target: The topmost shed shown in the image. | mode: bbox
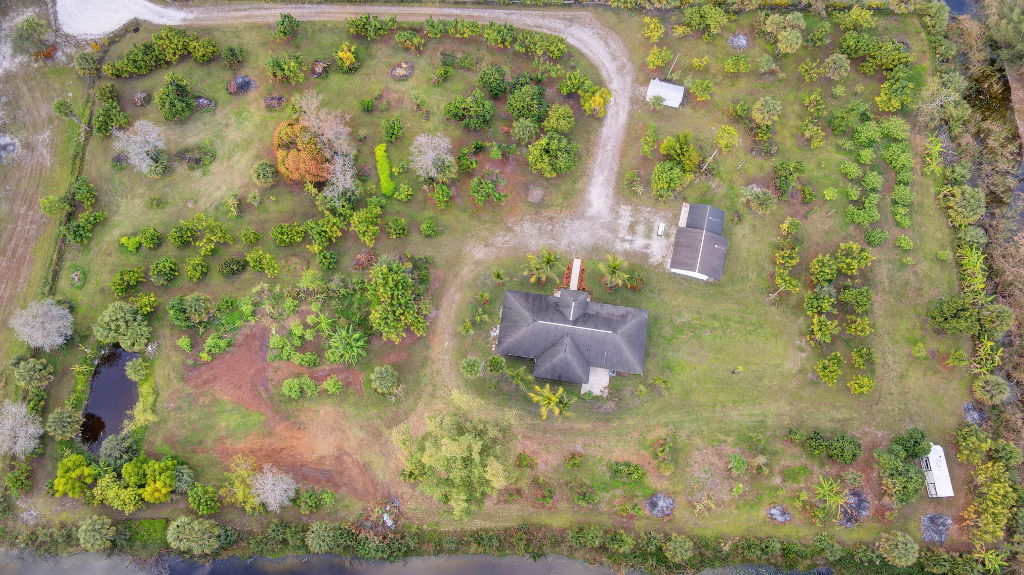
[646,79,684,108]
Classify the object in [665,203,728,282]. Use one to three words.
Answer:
building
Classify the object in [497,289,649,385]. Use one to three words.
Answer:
house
